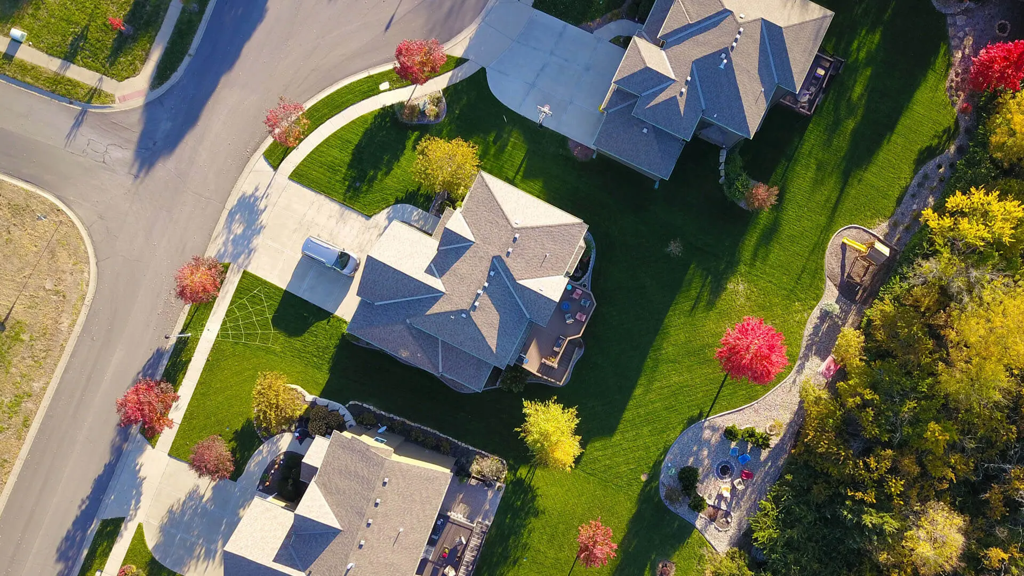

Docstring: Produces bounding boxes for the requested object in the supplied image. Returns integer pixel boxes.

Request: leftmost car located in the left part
[298,236,359,275]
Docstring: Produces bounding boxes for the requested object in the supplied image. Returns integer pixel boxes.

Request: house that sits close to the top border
[593,0,835,180]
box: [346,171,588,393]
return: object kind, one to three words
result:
house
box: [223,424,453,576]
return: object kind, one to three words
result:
house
